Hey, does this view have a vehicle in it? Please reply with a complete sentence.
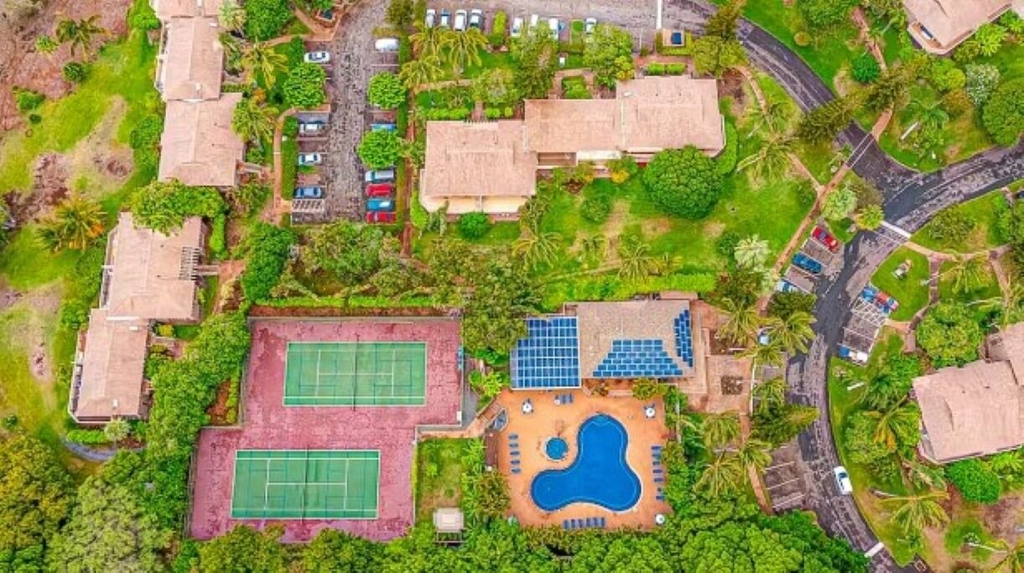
Yes, I can see a vehicle in this picture.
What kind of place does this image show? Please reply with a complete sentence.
This looks like a residential area.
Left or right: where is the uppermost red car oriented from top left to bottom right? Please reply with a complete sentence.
It is on the right.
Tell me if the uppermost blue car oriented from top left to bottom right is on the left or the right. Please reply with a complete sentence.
It is on the right.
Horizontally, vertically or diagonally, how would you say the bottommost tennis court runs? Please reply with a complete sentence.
What the image shows is the bottommost tennis court lying horizontally.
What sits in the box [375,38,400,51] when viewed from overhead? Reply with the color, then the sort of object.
white vehicle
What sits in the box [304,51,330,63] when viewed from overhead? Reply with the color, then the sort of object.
white vehicle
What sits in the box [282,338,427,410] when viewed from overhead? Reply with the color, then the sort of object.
green tennis court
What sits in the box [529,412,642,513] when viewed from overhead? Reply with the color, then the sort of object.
blue swimming pool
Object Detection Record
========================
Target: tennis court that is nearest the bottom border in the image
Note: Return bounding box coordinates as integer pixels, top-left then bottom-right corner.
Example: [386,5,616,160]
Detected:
[231,446,380,523]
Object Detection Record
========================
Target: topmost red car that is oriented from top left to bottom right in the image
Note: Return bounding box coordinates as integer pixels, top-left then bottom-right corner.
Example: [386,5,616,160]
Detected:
[813,226,839,251]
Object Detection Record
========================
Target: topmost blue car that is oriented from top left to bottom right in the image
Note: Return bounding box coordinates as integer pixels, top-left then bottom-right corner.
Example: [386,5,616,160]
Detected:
[793,252,822,275]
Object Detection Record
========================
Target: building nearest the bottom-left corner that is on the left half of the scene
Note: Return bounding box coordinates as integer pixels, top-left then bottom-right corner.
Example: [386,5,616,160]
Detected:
[68,309,157,426]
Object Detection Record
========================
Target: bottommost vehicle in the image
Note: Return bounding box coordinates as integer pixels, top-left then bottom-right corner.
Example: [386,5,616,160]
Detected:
[833,466,851,494]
